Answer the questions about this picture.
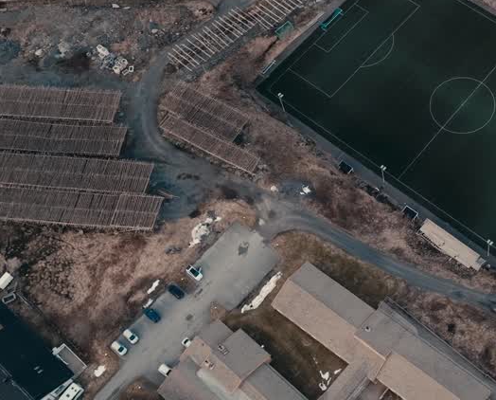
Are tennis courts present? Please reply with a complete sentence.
No, no tennis court can be seen from above.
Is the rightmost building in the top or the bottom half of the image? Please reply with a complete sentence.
It is in the bottom half that the rightmost building appears.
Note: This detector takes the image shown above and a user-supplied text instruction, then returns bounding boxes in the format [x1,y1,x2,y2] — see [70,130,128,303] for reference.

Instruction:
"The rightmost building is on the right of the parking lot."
[378,324,496,400]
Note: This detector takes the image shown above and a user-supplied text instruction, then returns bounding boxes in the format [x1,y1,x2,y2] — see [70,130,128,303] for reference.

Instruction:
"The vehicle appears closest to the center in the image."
[186,265,204,282]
